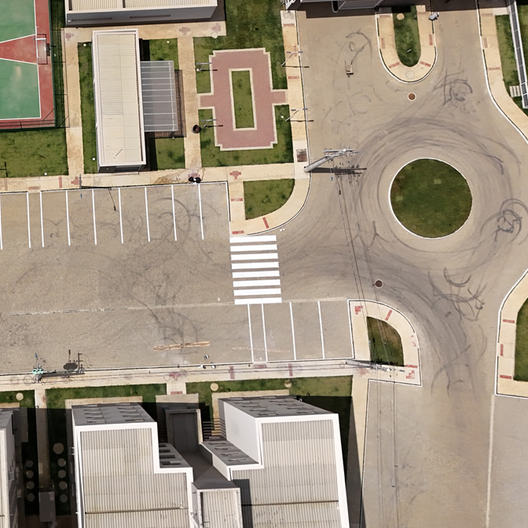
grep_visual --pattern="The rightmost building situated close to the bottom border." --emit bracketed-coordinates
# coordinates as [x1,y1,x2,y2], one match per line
[61,389,349,528]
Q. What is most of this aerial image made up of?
paved ground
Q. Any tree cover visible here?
No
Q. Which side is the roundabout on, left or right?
right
